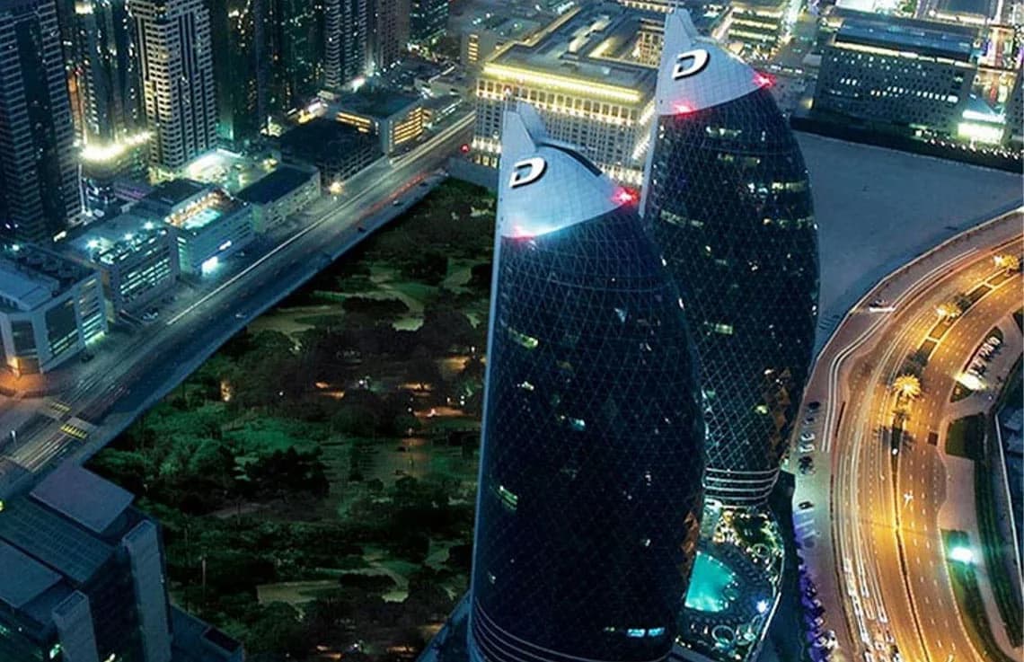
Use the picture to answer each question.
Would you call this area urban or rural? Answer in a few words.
urban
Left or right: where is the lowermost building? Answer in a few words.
left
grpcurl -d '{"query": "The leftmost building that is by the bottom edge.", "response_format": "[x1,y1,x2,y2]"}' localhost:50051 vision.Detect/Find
[0,464,243,662]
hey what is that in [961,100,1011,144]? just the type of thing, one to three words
building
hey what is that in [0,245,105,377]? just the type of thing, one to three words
building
